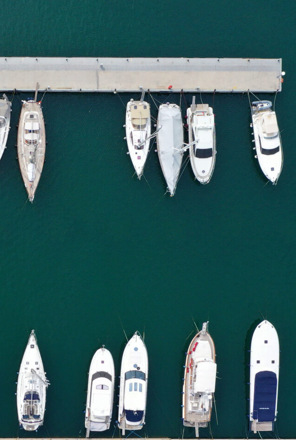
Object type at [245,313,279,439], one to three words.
boat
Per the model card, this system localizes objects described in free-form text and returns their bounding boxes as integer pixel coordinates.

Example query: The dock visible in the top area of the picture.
[0,58,280,92]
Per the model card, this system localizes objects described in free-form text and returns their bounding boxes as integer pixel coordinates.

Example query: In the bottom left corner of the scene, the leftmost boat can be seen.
[15,327,52,432]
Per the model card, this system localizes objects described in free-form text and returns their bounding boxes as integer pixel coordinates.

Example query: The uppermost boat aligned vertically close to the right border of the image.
[249,91,284,186]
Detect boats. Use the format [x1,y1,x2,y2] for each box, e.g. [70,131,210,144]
[149,91,199,197]
[183,91,219,186]
[249,91,284,186]
[117,91,163,181]
[245,313,279,439]
[252,98,273,110]
[15,83,49,207]
[112,326,149,440]
[15,327,52,432]
[0,92,14,159]
[180,321,217,439]
[84,346,116,439]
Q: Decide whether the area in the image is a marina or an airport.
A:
marina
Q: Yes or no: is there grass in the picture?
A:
No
